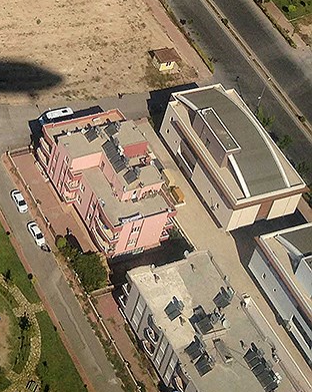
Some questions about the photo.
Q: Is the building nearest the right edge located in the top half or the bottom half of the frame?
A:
bottom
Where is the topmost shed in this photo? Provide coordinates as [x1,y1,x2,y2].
[152,47,177,71]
